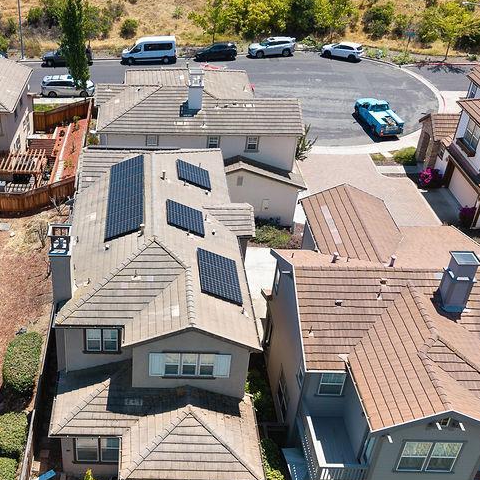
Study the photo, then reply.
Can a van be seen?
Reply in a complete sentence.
Yes, you can see a van in this photo.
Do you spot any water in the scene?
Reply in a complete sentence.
No, the scene doesn't show any water.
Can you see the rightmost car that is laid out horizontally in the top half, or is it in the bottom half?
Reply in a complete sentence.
The top half of the photo is where the rightmost car that is laid out horizontally is.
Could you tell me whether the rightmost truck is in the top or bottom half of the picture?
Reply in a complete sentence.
You can find the rightmost truck in the top half.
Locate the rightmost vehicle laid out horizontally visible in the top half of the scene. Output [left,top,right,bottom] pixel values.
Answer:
[319,39,363,59]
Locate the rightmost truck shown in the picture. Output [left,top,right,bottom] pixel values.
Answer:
[358,100,406,135]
